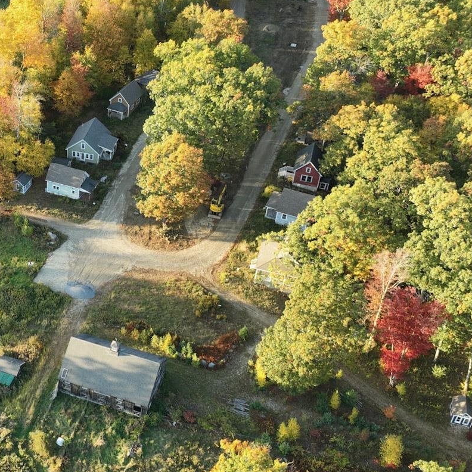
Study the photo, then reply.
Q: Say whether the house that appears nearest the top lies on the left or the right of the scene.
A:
left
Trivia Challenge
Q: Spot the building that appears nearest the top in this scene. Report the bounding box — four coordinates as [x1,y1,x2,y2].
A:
[107,66,144,120]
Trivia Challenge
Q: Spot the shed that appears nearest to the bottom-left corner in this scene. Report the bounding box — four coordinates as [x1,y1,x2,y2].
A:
[0,350,27,387]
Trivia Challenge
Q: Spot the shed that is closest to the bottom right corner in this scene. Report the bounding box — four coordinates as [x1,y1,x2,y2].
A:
[451,393,472,427]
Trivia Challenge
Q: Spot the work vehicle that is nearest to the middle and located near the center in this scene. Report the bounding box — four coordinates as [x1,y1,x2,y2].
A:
[209,184,230,219]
